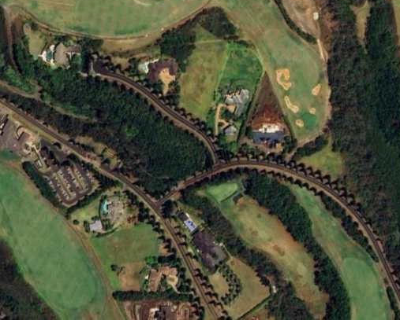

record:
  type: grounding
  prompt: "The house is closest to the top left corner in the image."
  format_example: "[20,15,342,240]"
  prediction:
[50,43,81,68]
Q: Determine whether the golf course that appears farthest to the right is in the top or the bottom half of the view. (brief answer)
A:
bottom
